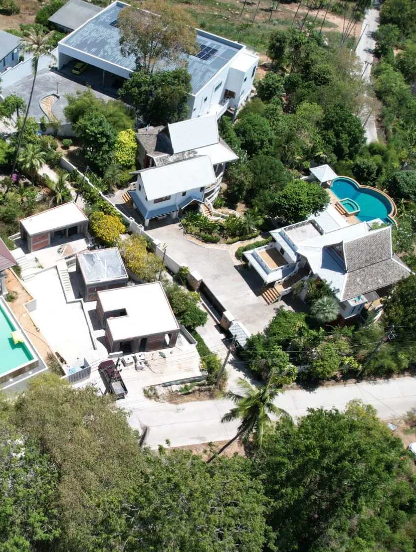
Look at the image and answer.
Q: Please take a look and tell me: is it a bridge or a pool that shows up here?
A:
pool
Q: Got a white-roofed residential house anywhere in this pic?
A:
Yes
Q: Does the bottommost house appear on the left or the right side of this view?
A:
left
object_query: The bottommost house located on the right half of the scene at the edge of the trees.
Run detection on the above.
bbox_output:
[241,205,414,330]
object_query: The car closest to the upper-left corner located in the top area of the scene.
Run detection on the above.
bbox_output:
[70,60,88,75]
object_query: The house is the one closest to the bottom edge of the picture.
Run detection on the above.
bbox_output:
[94,280,179,358]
